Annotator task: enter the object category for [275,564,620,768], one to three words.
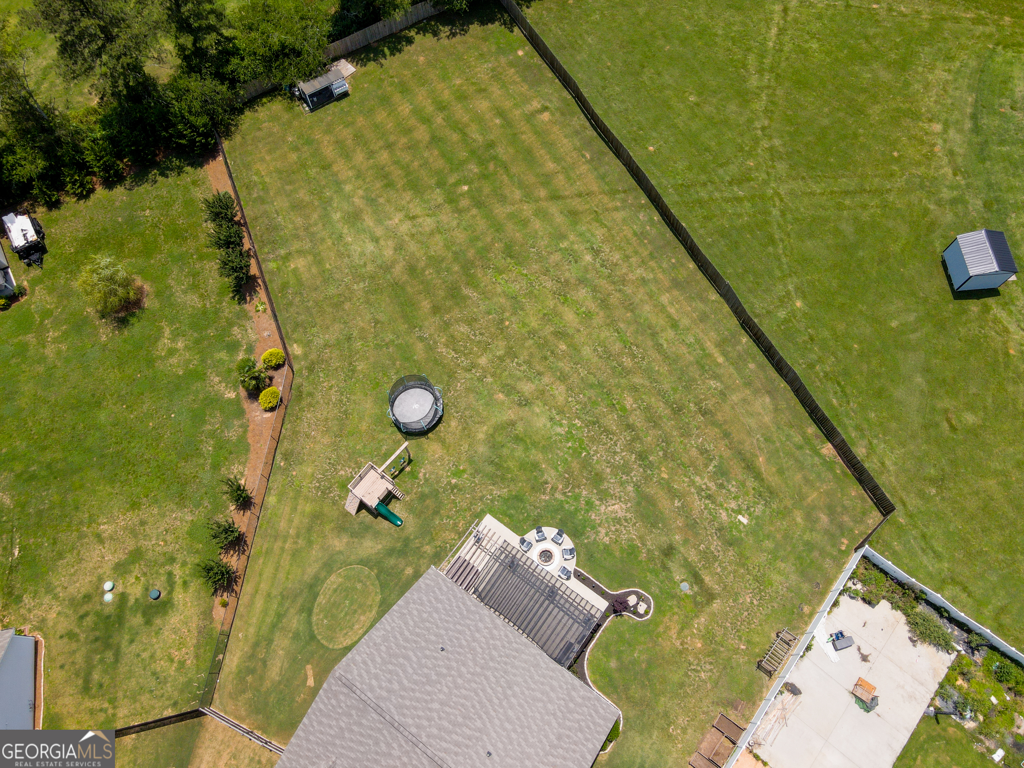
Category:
house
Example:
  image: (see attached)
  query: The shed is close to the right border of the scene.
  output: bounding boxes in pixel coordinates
[941,228,1018,291]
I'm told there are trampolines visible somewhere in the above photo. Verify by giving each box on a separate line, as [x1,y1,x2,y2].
[386,375,445,439]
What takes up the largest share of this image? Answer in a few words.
grass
